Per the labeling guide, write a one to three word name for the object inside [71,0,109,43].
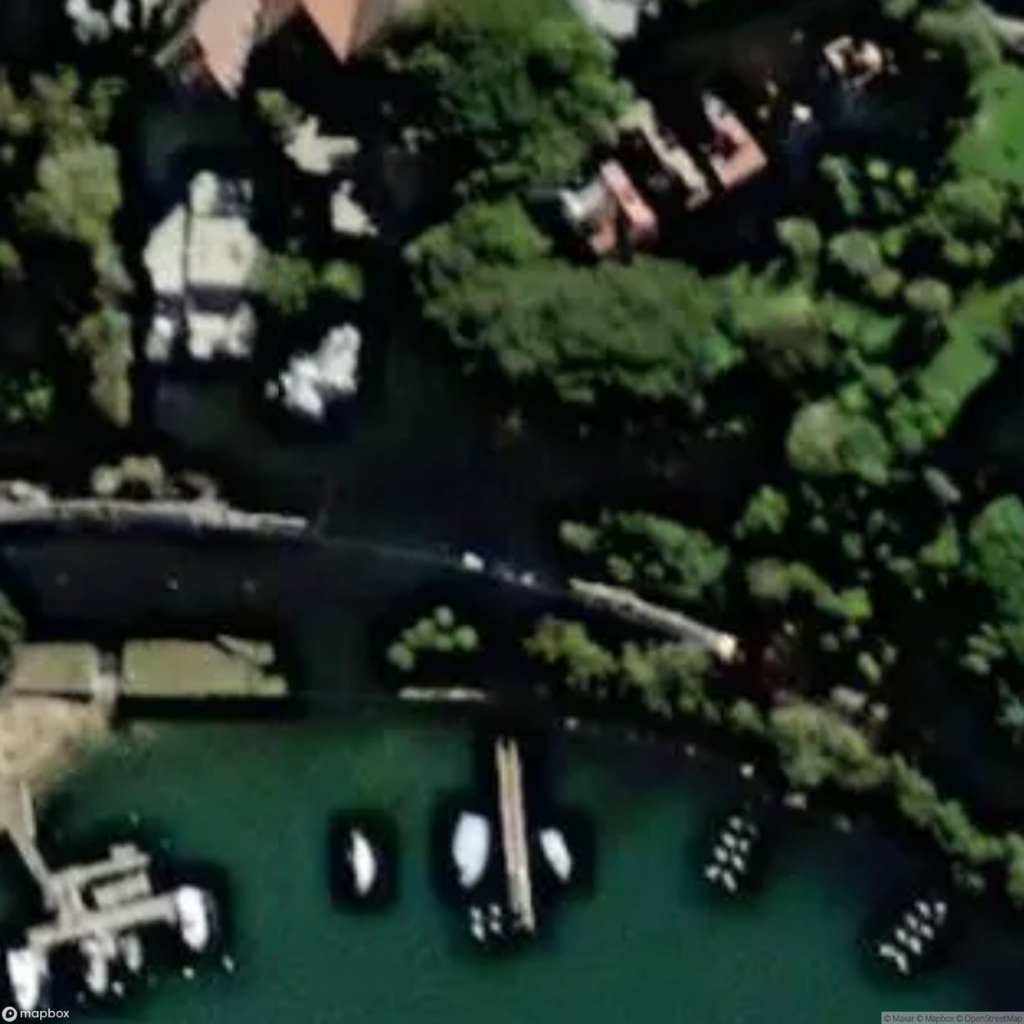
shed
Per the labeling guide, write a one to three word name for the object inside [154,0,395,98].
house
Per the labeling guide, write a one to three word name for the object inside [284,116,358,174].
building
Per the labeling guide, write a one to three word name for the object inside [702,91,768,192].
house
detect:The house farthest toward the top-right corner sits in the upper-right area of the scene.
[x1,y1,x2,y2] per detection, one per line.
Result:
[823,35,882,90]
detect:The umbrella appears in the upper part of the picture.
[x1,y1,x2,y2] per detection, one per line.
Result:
[794,106,809,120]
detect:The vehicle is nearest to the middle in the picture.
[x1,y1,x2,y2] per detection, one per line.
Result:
[460,550,485,570]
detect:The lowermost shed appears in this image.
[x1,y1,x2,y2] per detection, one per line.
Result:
[923,468,960,501]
